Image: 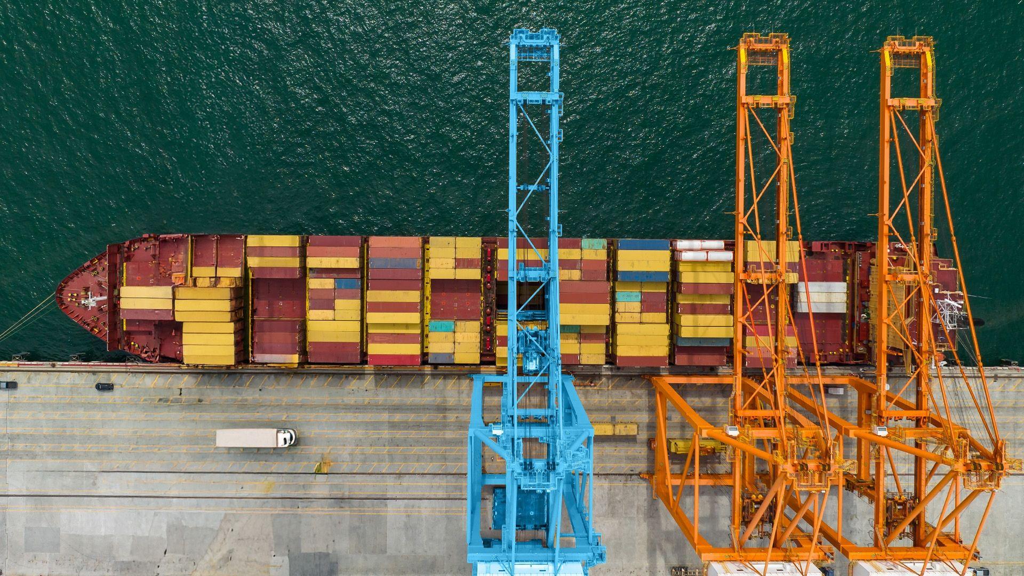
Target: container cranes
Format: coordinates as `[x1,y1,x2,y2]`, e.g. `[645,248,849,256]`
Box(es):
[635,22,863,576]
[743,23,1024,576]
[467,20,606,576]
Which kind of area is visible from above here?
port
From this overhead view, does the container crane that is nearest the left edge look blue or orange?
blue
